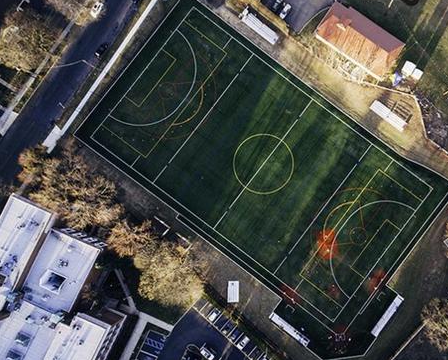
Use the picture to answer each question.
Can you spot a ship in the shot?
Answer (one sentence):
No, I can't see a single ship in this photo.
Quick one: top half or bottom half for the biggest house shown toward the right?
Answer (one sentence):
Seen from above, the biggest house shown toward the right lies in the top half of the view.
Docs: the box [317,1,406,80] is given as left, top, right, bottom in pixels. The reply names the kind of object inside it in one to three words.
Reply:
house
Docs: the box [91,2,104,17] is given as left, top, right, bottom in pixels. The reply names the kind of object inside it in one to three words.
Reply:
vehicle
